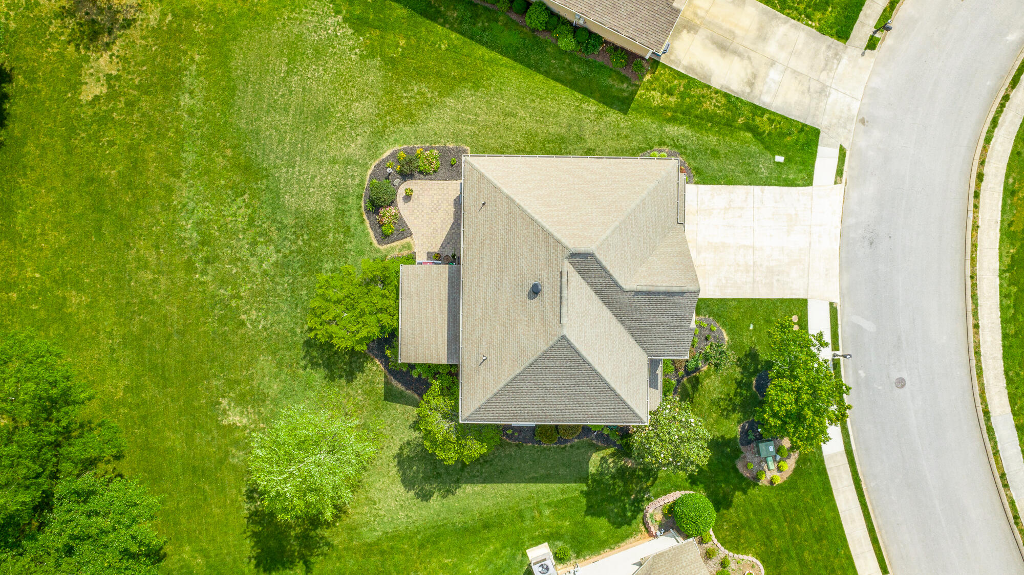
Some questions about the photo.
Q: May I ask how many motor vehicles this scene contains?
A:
0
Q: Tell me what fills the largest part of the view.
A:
grass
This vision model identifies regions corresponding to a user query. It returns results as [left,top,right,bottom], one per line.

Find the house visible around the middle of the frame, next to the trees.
[398,156,700,425]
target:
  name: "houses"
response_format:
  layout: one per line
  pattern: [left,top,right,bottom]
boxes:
[529,0,687,59]
[556,530,711,575]
[398,156,700,425]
